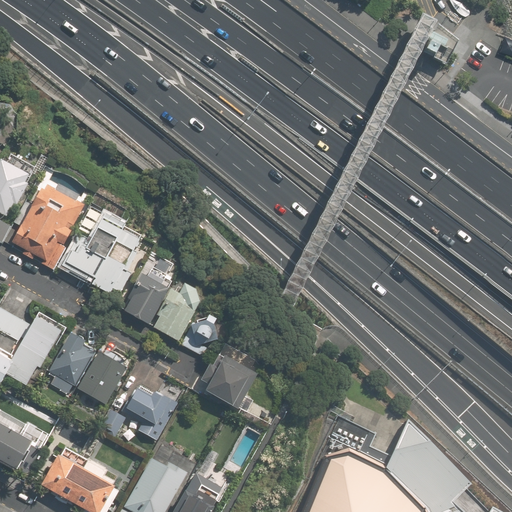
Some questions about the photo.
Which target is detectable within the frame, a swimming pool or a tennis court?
swimming pool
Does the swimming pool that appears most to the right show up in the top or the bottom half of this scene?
bottom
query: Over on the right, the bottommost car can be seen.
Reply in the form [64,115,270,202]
[449,348,464,361]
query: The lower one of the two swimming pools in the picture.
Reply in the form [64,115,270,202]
[224,426,262,470]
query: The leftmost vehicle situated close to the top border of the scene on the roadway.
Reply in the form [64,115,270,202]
[62,20,80,34]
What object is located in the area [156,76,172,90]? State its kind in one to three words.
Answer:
vehicle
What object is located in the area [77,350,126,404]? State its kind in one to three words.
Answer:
house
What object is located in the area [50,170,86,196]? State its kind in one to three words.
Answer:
swimming pool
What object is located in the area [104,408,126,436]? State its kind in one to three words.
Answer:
shed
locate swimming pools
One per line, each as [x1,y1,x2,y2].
[50,170,86,196]
[224,426,262,470]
